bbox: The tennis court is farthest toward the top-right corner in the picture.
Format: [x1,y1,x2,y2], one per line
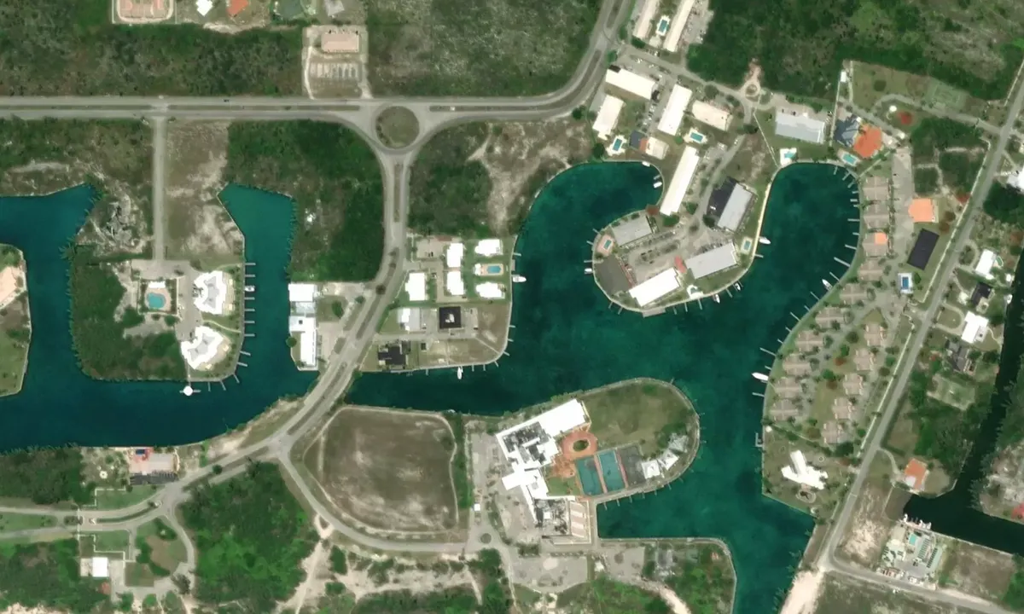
[923,78,968,113]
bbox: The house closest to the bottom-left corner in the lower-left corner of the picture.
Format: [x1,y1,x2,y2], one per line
[92,557,109,577]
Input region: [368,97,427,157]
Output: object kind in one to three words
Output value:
roundabout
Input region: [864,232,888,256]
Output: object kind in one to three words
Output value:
house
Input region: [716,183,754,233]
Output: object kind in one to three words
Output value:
building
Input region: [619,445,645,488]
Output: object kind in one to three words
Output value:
tennis court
